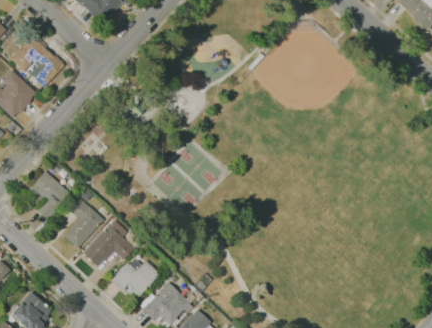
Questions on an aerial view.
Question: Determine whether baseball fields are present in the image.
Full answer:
Yes, you can see a baseball field in this photo.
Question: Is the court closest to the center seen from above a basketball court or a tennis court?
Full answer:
The court closest to the center in the image is a basketball court.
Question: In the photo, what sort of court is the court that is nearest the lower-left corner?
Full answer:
I'd identify the court that is nearest the lower-left corner as a basketball court.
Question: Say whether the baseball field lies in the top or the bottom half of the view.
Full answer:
You can find the baseball field in the top half.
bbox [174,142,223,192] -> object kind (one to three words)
basketball court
